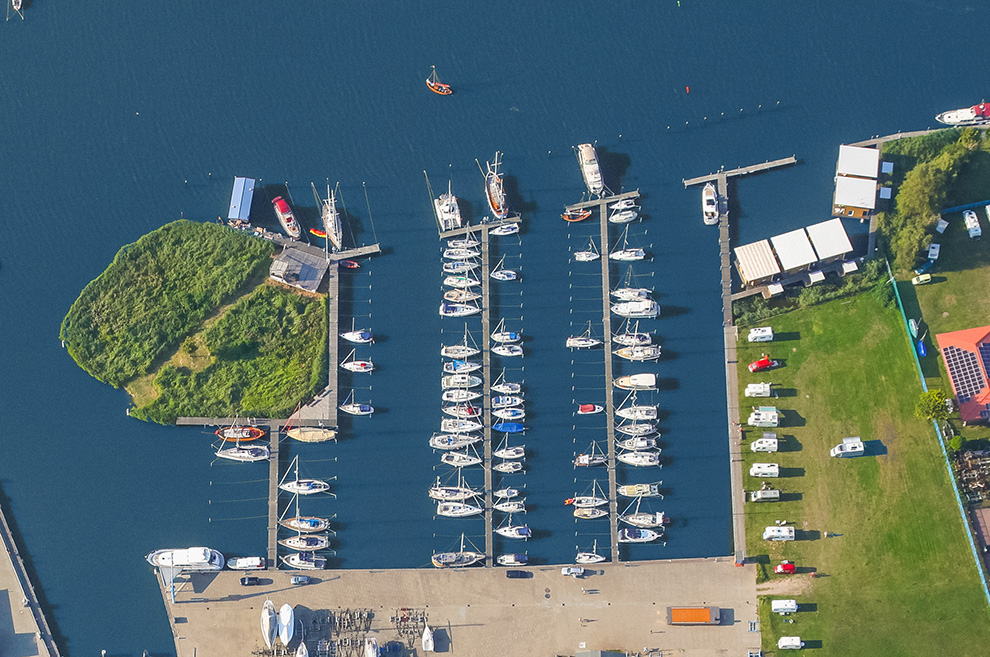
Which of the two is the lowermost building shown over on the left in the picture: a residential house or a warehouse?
residential house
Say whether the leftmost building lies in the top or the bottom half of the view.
top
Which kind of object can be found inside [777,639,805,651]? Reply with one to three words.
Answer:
vehicle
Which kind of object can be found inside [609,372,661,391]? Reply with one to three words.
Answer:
boat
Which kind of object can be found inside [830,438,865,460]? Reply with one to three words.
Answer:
vehicle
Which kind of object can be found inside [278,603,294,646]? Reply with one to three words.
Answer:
boat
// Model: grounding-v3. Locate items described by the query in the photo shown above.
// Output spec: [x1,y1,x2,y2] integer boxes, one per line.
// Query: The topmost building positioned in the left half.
[226,177,257,224]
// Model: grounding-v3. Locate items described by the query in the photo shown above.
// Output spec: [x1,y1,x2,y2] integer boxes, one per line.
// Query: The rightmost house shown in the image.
[936,324,990,421]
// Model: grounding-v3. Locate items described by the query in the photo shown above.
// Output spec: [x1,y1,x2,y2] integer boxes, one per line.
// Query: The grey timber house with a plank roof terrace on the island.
[270,246,330,295]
